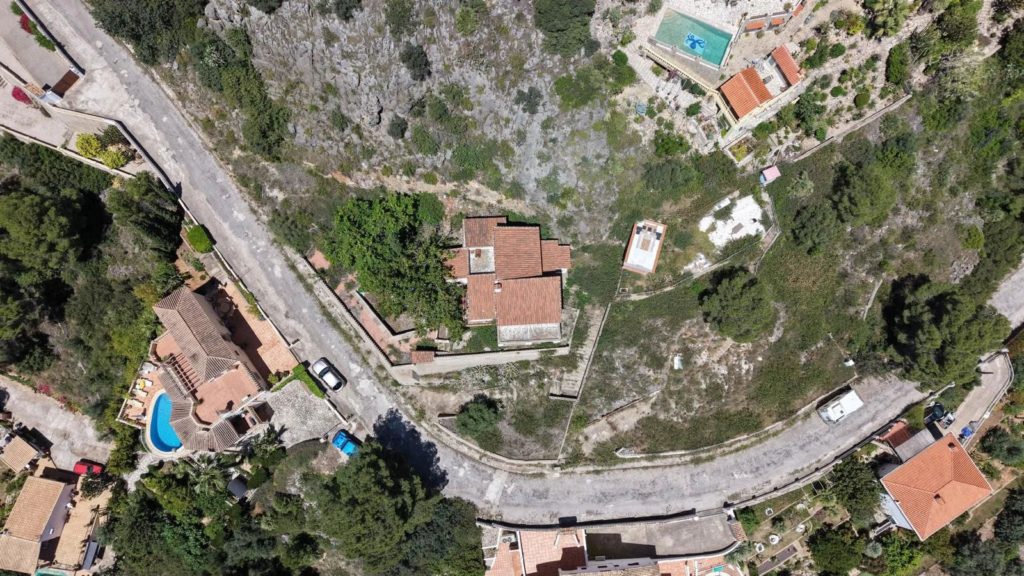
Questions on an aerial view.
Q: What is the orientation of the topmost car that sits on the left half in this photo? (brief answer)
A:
at an angle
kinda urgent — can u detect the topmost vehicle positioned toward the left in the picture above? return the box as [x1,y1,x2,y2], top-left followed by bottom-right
[313,355,349,395]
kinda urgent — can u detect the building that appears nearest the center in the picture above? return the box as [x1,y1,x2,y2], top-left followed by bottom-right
[447,215,573,345]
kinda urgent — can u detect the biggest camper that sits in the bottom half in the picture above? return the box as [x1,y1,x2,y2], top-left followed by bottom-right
[807,384,867,424]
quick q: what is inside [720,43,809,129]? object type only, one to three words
house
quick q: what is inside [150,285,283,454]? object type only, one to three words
house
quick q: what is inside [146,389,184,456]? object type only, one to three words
swimming pool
